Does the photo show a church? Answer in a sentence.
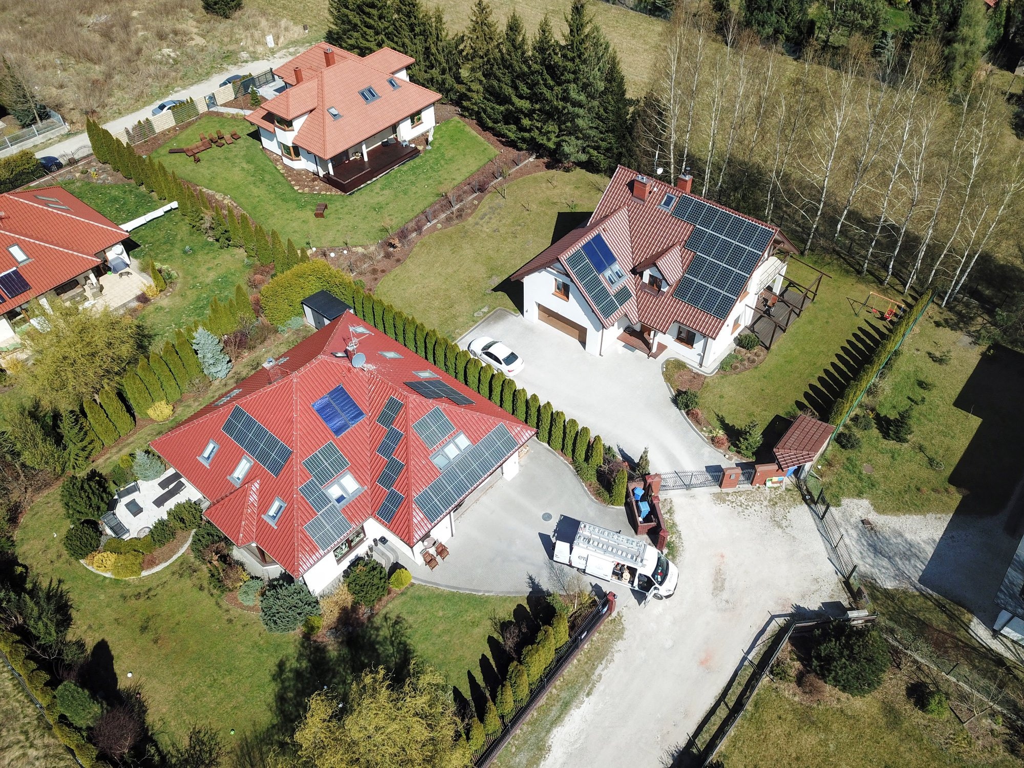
No, no church can be seen from above.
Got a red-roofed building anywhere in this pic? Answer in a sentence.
Yes, a red-roofed building can be made out from above.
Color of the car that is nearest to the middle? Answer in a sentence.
In this view, the car that is nearest to the middle is white.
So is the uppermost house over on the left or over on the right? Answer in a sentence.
The uppermost house appears in the left half of the scene.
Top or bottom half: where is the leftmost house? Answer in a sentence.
The leftmost house sits in the top half of the picture.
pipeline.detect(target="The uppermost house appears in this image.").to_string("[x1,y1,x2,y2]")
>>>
[244,41,443,195]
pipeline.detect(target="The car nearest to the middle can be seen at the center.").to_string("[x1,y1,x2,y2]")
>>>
[461,331,523,374]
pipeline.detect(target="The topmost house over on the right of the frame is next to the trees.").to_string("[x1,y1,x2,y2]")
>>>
[508,152,801,371]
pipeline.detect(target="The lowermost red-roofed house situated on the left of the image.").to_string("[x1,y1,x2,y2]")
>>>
[147,309,539,596]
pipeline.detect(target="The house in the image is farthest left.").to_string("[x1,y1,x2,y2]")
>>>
[0,184,134,324]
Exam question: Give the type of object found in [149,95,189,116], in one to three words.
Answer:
car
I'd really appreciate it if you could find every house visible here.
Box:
[244,41,443,195]
[147,309,539,596]
[0,184,134,324]
[987,475,1024,652]
[508,152,801,371]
